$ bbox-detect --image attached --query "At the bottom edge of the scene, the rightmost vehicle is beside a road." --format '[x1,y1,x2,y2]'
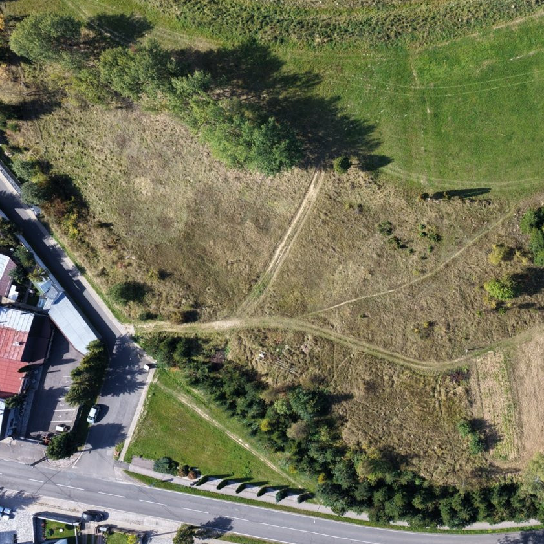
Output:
[81,511,103,523]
